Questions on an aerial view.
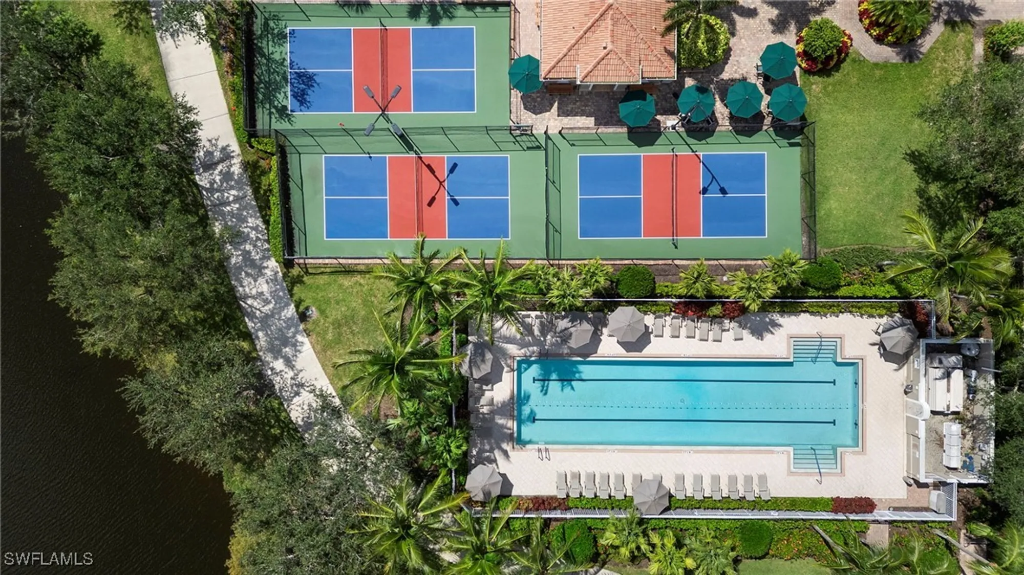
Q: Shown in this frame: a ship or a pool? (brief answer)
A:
pool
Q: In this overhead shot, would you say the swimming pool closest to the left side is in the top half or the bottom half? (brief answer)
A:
bottom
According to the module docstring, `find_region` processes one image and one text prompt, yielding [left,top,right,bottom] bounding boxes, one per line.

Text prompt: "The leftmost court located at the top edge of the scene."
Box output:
[254,3,510,129]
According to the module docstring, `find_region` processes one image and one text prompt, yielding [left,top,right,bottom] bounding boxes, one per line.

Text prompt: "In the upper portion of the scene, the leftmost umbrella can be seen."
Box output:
[507,56,542,94]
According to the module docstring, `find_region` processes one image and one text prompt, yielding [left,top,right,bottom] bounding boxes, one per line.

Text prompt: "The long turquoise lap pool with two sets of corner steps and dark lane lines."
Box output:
[509,333,867,476]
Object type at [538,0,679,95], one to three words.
building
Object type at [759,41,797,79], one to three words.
umbrella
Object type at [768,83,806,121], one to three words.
umbrella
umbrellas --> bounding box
[725,82,763,119]
[768,83,806,121]
[878,315,915,352]
[507,56,542,94]
[619,91,654,127]
[559,311,597,349]
[676,85,714,123]
[466,464,502,500]
[609,305,645,341]
[632,477,668,513]
[759,41,797,79]
[458,340,495,377]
